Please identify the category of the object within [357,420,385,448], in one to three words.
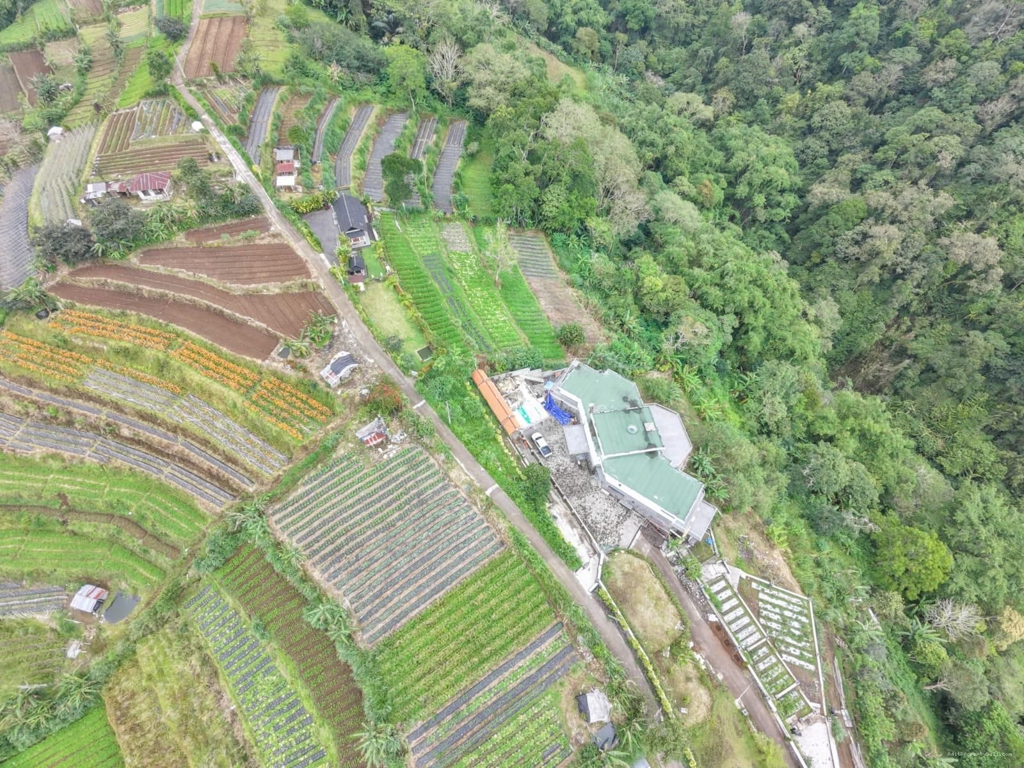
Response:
shed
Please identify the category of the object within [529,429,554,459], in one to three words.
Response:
truck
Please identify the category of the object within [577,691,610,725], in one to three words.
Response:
shed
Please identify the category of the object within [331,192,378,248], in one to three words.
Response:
house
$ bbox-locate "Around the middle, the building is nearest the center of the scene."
[472,371,521,440]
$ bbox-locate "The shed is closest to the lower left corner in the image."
[70,583,107,619]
